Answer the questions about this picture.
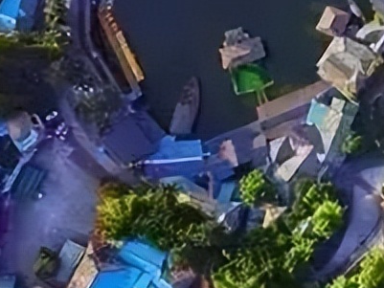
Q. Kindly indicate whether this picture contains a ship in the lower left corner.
No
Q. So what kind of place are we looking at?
residential area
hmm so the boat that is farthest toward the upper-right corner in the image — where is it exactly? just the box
[348,0,365,16]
